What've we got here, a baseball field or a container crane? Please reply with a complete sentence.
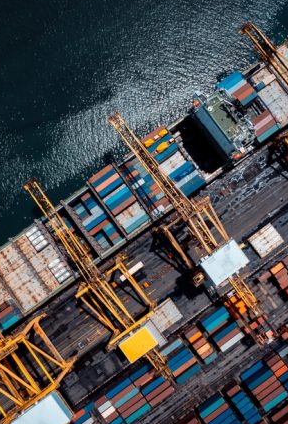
This aerial view contains a container crane.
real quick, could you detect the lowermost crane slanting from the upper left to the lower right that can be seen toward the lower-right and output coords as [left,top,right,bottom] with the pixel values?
[223,290,277,348]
